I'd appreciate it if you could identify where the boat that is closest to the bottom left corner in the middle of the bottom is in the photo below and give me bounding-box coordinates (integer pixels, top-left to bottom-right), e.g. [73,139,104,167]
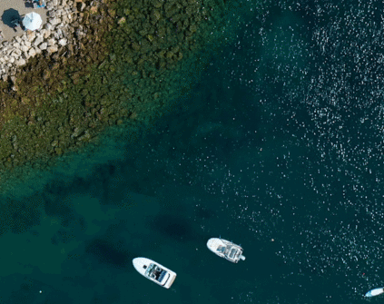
[132,256,180,292]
